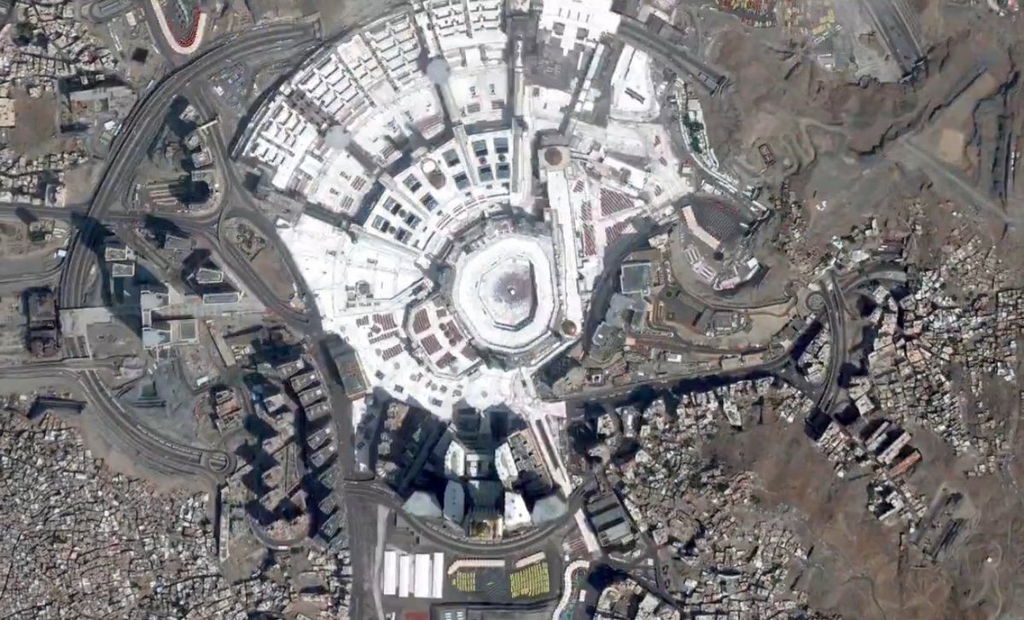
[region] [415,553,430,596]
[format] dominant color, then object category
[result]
white tent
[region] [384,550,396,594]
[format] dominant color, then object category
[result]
white tent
